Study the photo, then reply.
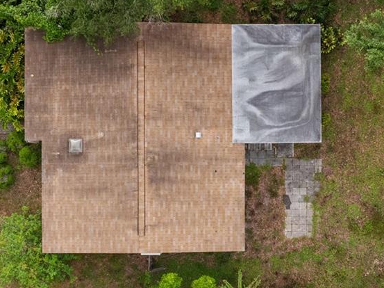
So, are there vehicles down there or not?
No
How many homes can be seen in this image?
1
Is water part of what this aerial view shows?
No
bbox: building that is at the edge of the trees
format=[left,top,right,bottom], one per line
[25,24,322,259]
